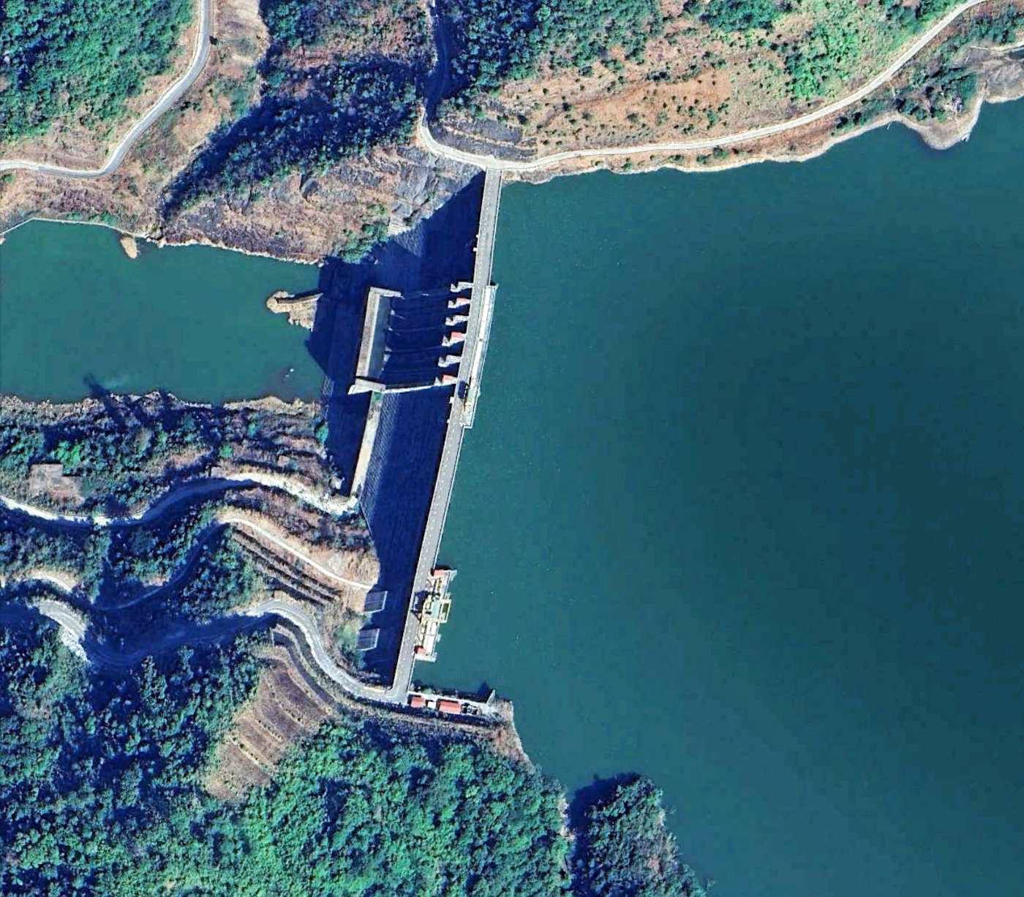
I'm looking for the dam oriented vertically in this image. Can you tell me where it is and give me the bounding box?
[346,168,502,702]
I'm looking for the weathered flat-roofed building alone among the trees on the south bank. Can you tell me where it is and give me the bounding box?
[30,464,63,491]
